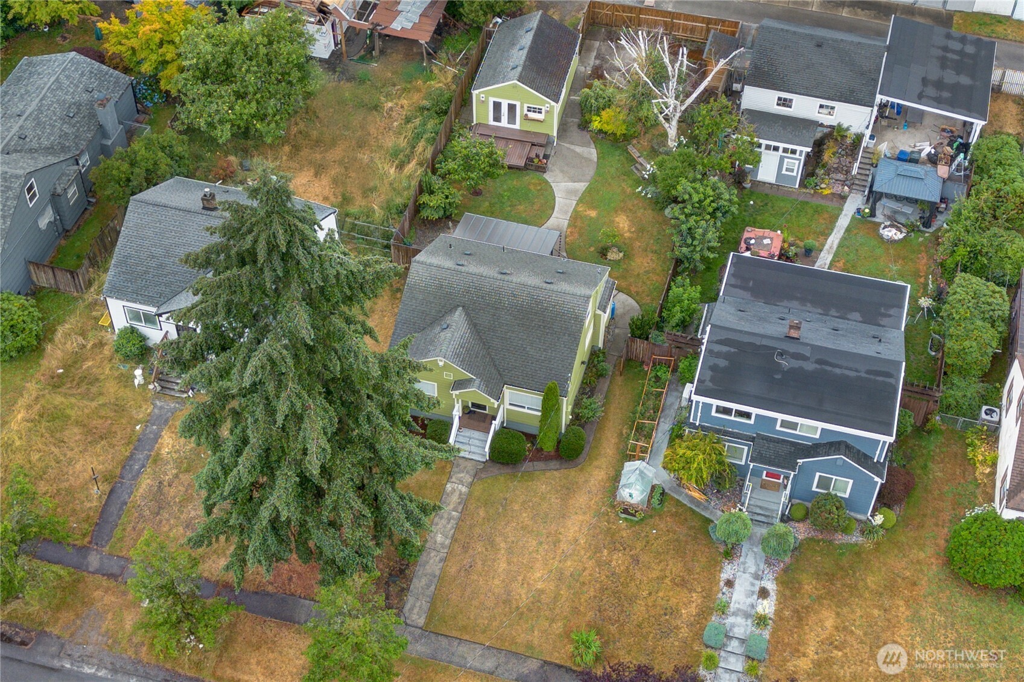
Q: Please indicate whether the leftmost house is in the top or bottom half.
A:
top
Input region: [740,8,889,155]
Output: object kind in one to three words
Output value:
building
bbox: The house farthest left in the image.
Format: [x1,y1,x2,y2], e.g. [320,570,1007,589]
[0,47,153,299]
